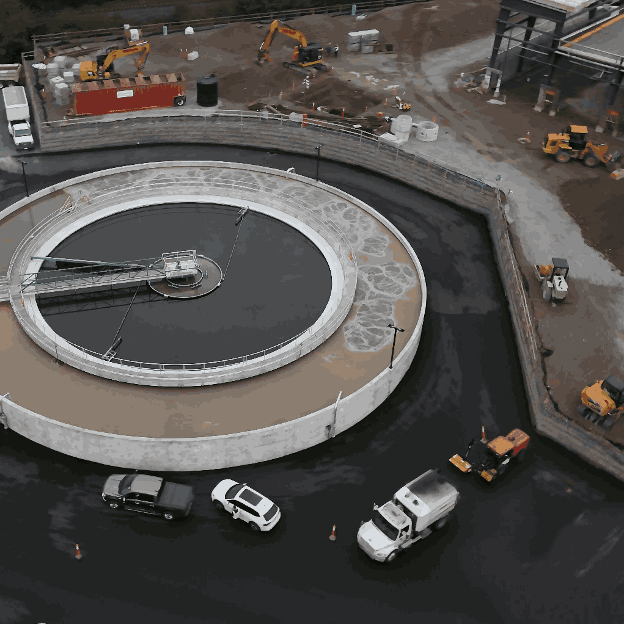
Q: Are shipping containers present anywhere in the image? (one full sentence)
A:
Yes, this view includes a shipping container.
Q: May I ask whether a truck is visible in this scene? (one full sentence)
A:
Yes, there's a truck here.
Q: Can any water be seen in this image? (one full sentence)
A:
Yes, water can be seen from above here.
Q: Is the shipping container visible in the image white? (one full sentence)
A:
No, the shipping container is actually red.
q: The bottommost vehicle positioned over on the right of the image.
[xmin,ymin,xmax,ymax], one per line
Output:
[355,459,466,566]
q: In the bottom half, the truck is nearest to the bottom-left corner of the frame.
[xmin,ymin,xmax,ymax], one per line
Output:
[97,471,197,521]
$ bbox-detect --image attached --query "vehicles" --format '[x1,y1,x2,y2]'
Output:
[255,15,329,78]
[538,251,571,292]
[72,38,150,80]
[544,127,616,167]
[97,471,197,521]
[1,88,31,136]
[458,431,534,483]
[0,60,22,88]
[572,380,624,432]
[208,481,284,535]
[355,459,466,566]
